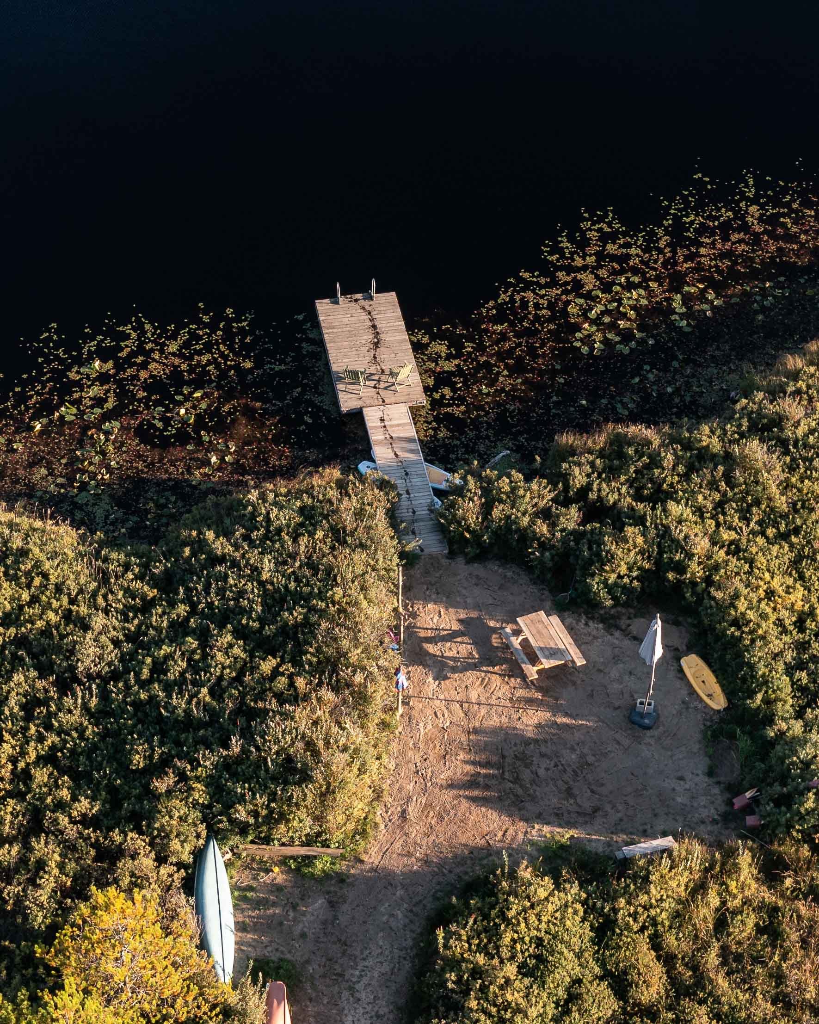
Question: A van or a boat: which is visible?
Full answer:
Visible in the photo is a boat.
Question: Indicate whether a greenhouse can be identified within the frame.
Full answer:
No, the frame has no greenhouse in it.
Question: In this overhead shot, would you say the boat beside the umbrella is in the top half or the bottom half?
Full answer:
You can find the boat beside the umbrella in the bottom half.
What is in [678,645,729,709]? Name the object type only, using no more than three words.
boat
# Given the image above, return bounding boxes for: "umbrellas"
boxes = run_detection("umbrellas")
[634,612,661,708]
